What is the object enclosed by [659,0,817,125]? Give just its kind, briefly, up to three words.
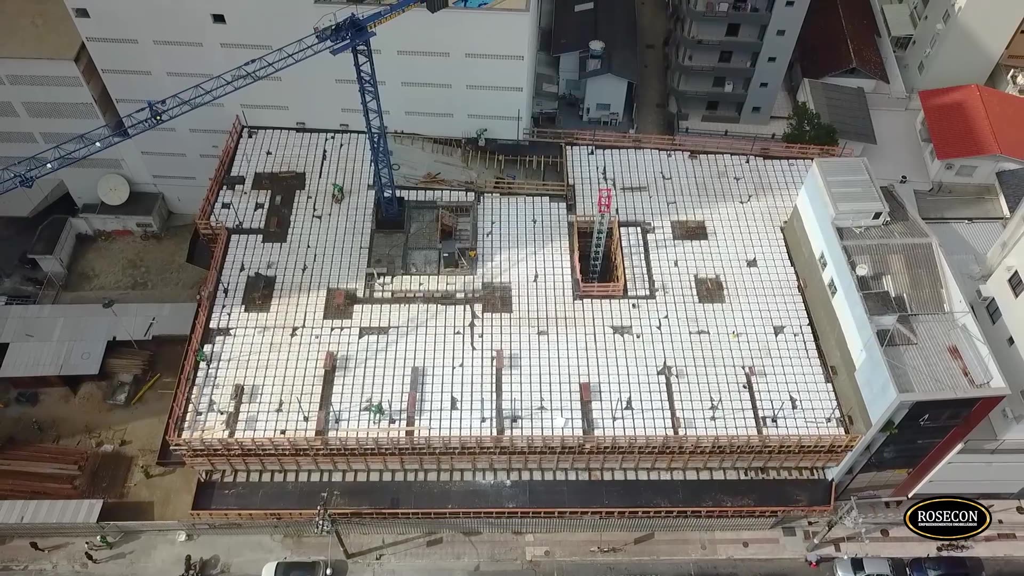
building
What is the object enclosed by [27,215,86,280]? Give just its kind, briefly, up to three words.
shed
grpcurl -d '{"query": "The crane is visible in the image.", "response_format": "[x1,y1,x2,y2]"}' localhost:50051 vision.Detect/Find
[0,0,467,229]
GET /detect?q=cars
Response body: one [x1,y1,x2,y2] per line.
[829,553,903,576]
[902,552,985,576]
[260,564,334,576]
